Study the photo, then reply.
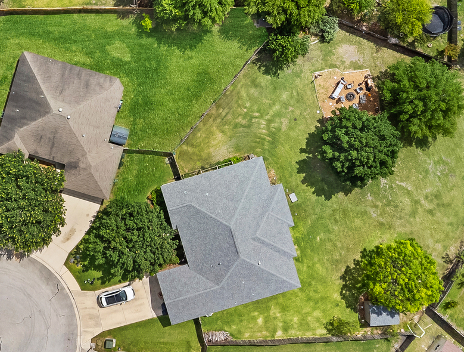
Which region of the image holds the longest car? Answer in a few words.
bottom left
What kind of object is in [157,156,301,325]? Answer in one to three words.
house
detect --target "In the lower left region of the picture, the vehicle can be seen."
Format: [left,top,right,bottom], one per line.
[97,286,135,310]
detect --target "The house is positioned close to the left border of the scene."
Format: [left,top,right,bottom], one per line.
[0,51,124,199]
